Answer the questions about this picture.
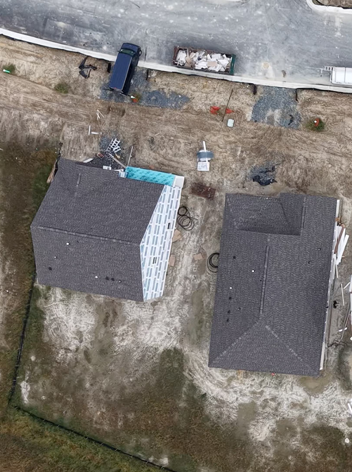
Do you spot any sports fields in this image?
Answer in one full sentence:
No, the scene contains no sports field.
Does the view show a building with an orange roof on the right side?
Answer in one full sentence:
No, no building with an orange roof is visible on the right side.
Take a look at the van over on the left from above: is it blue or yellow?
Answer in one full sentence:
The van over on the left is blue.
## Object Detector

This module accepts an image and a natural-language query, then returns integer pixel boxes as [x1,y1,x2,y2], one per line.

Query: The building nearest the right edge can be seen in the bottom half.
[208,192,339,376]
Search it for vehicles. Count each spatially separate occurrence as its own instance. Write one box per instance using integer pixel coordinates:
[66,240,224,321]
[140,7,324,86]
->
[328,65,352,85]
[97,41,144,97]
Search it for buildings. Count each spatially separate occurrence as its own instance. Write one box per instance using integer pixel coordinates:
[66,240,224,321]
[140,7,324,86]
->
[31,155,184,302]
[208,192,339,376]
